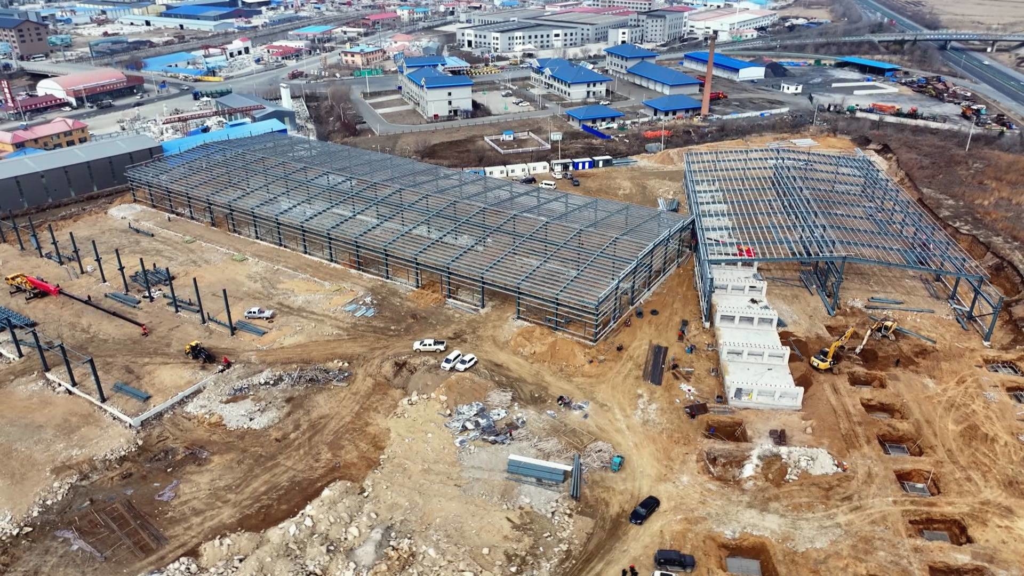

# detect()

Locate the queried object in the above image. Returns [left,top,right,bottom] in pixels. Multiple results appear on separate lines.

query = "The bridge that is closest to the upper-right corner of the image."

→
[740,30,1024,52]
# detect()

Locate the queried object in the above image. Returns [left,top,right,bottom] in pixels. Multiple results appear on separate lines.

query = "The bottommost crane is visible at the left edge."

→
[0,276,150,331]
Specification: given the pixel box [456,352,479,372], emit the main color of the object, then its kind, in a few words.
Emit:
white car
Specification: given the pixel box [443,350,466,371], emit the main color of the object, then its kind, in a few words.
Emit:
white car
